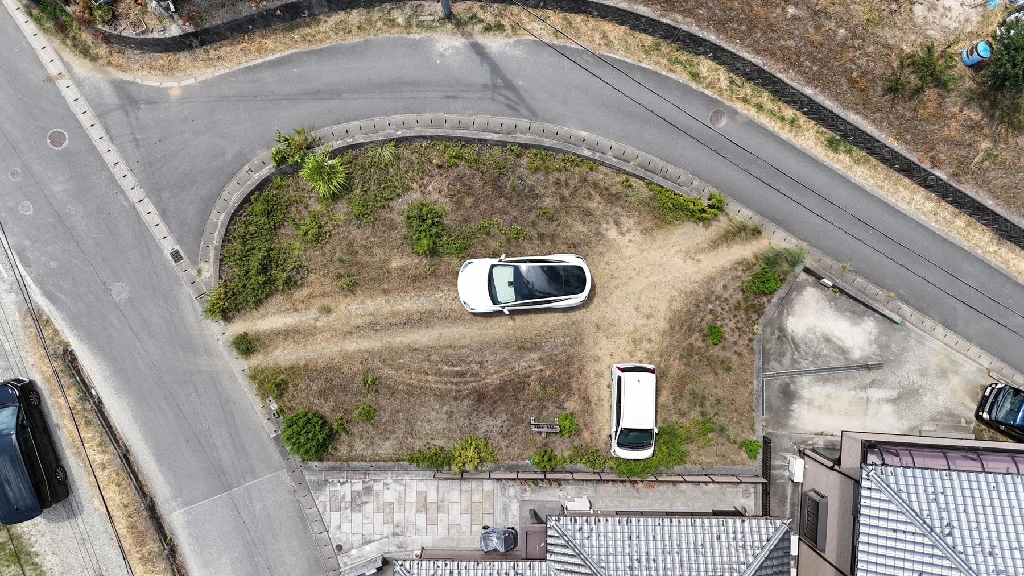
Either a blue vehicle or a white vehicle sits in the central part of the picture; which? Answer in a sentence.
What appears in the central part of the picture is a white vehicle.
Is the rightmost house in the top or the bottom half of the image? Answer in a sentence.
It is in the bottom half that the rightmost house appears.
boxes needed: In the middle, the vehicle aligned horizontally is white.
[459,251,593,318]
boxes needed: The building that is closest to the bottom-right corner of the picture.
[797,428,1024,576]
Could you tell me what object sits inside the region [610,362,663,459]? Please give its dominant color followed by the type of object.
white car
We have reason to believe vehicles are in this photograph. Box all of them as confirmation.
[610,362,663,459]
[972,387,1024,435]
[0,375,67,524]
[459,251,593,318]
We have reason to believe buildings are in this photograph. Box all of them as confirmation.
[797,428,1024,576]
[390,497,794,576]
